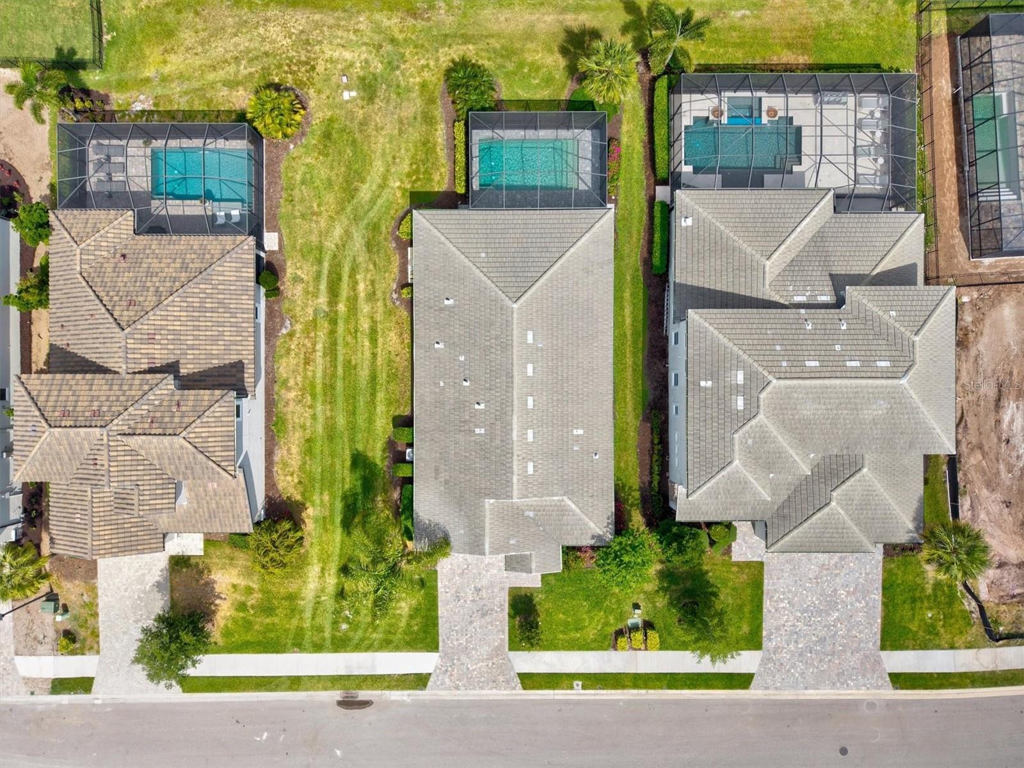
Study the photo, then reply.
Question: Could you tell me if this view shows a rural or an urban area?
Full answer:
From above, the setting appears urban.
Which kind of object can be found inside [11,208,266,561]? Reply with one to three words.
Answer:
house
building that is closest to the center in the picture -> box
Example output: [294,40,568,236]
[411,208,615,576]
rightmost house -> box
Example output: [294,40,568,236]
[669,188,958,554]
